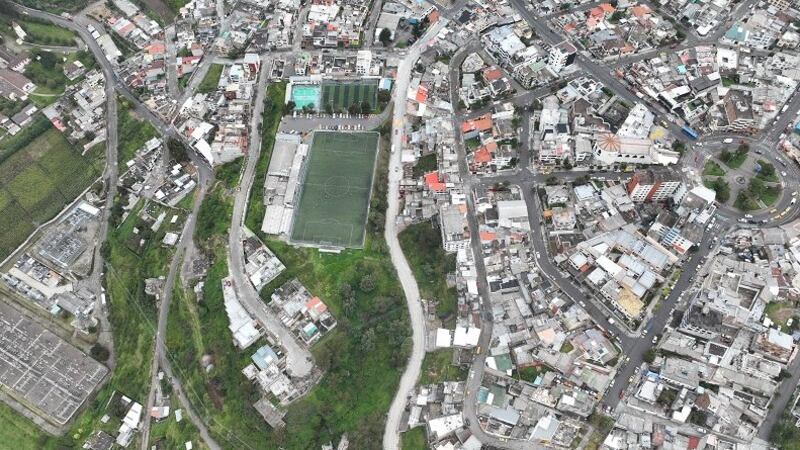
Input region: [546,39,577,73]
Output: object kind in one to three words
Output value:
building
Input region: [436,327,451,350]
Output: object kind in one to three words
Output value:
house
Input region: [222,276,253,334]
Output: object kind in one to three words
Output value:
house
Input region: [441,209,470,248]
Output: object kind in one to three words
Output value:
building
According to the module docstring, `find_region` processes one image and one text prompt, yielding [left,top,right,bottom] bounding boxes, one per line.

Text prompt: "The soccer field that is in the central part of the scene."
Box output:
[291,131,379,247]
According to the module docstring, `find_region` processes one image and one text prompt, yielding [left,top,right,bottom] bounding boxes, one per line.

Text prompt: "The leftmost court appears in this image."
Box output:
[292,84,321,110]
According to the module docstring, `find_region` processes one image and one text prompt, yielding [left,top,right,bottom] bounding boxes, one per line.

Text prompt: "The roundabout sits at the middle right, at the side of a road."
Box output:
[685,137,800,227]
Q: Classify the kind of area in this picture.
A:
residential area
